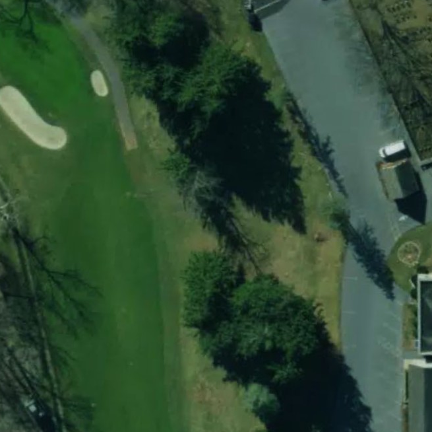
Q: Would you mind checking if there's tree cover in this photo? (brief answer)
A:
Yes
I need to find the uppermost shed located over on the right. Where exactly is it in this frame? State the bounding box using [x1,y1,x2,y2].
[379,156,425,201]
